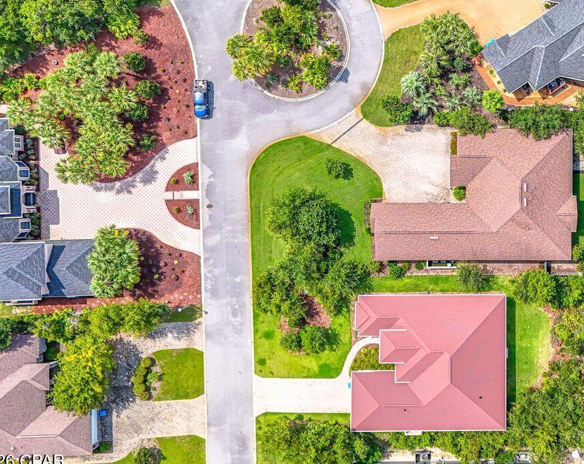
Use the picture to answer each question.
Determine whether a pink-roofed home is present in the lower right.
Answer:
Yes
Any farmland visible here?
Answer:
No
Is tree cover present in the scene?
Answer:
Yes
